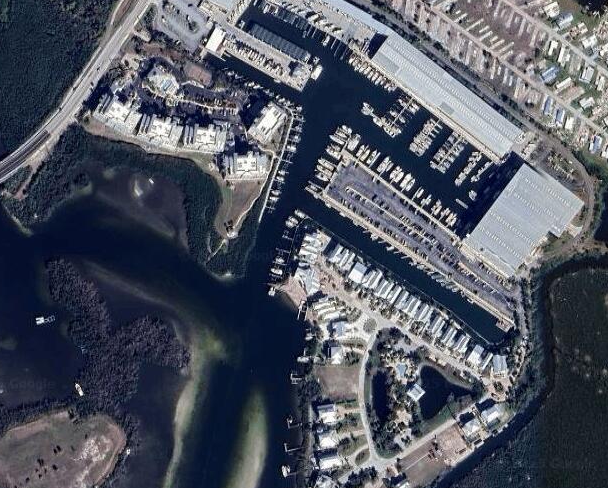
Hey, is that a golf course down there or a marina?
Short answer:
marina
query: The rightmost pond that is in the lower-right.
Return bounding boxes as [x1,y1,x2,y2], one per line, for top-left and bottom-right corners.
[418,365,469,421]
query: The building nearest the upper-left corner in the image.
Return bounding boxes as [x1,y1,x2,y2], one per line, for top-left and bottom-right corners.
[93,100,141,139]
